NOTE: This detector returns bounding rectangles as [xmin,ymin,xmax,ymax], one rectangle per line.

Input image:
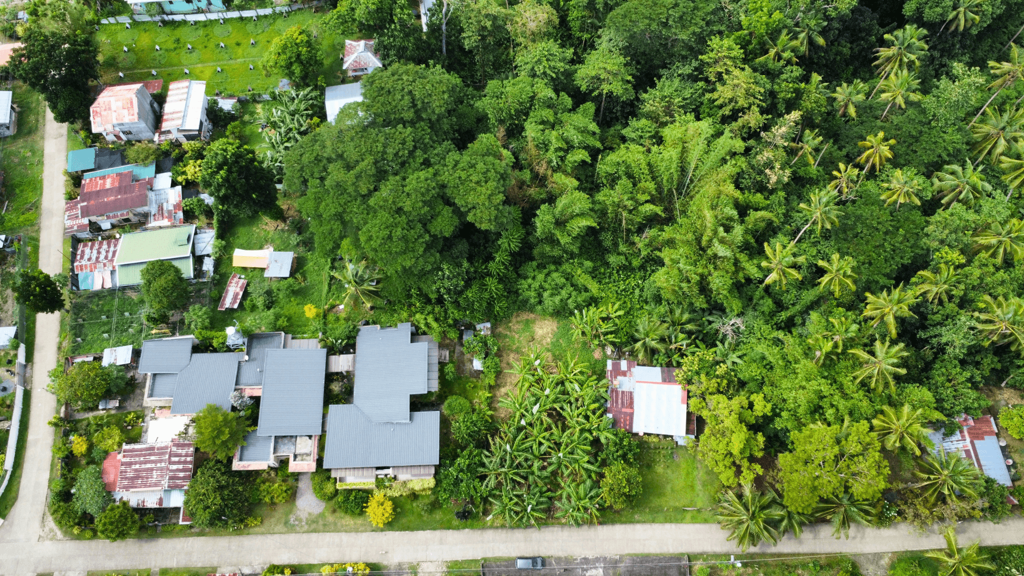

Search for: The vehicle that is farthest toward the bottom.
[515,558,543,572]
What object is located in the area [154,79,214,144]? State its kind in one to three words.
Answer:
house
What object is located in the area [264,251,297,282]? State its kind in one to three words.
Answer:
shed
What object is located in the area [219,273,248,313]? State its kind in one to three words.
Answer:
shed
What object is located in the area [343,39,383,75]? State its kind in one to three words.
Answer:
building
